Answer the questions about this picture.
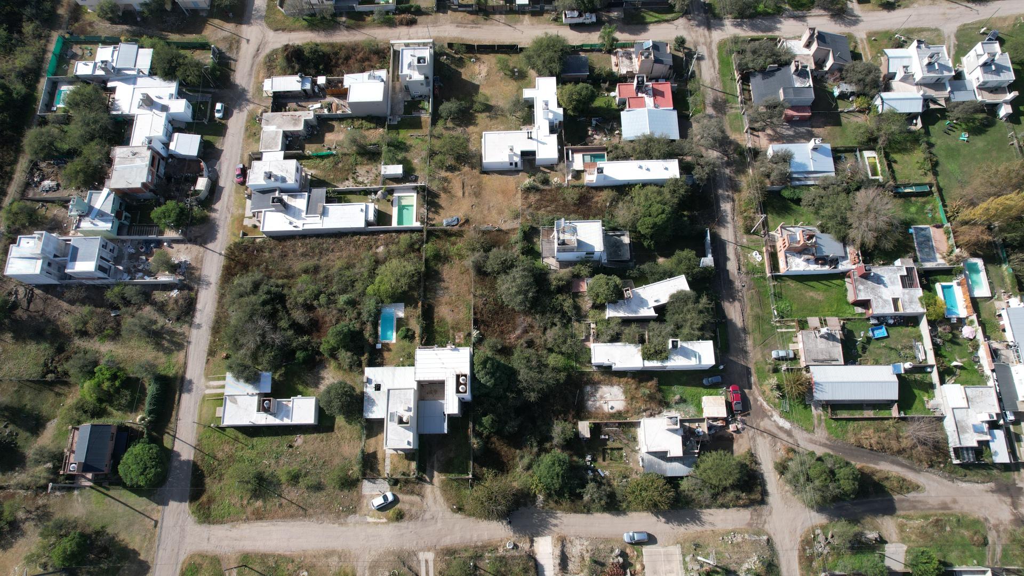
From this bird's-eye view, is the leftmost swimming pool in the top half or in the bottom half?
top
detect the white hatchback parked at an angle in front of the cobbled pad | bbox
[369,491,395,511]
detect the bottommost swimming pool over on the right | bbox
[868,325,887,338]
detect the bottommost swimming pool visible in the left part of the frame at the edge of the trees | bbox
[377,303,404,343]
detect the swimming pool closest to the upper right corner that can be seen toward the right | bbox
[862,151,883,182]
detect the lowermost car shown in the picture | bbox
[623,530,649,544]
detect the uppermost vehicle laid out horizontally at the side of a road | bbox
[563,14,596,28]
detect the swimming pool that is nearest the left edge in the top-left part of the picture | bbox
[53,83,85,108]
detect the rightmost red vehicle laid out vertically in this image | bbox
[727,384,744,413]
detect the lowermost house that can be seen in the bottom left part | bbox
[64,425,136,474]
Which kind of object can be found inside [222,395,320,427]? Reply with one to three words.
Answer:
house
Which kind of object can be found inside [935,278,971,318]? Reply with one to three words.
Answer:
swimming pool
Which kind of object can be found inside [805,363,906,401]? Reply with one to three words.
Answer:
barn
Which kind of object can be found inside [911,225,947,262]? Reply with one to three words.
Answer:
swimming pool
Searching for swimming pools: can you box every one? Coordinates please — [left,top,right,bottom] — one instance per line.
[377,303,404,343]
[392,189,417,226]
[862,151,883,182]
[53,83,85,108]
[911,225,947,262]
[574,152,607,170]
[868,325,887,338]
[935,278,971,318]
[964,258,991,297]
